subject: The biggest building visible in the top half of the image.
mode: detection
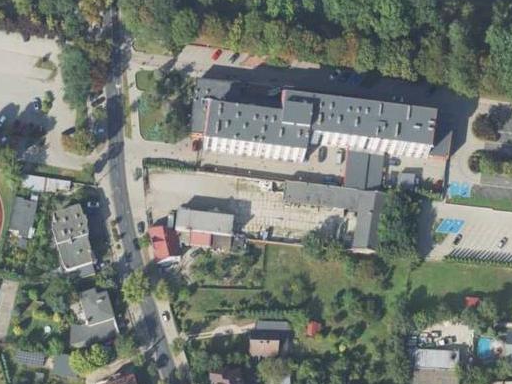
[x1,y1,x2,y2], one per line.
[190,78,450,165]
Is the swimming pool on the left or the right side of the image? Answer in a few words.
right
